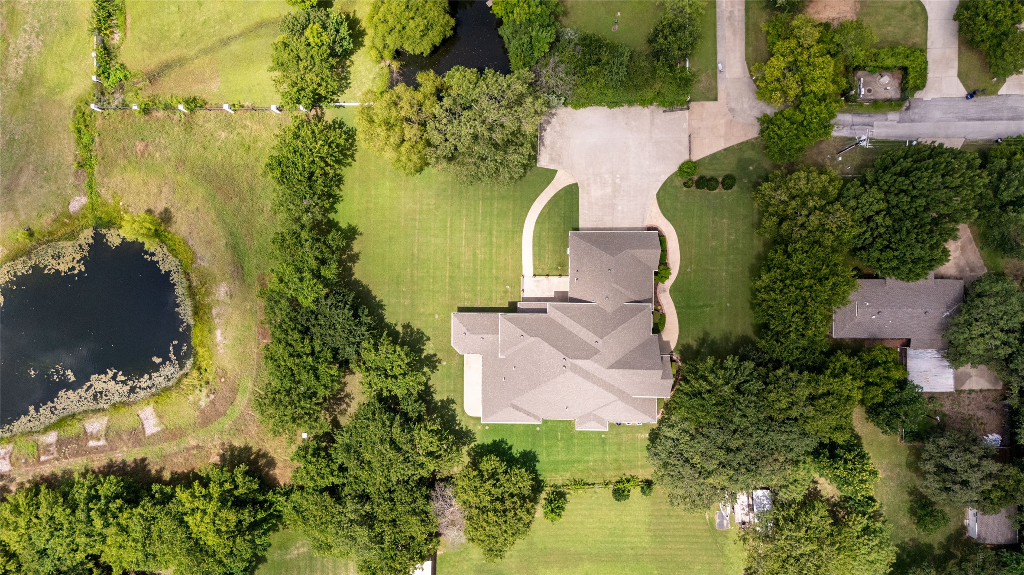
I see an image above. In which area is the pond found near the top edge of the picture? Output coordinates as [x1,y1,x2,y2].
[387,0,519,100]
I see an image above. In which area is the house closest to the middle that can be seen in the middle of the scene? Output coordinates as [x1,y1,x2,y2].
[451,231,679,431]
